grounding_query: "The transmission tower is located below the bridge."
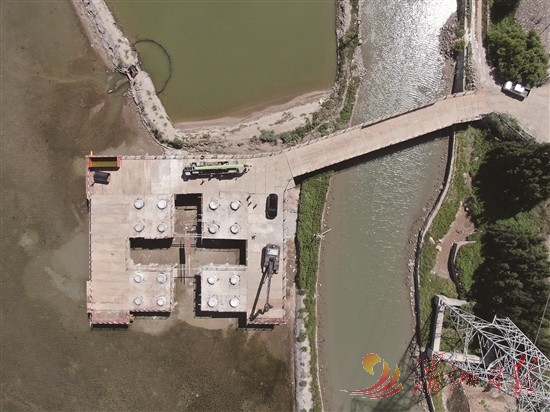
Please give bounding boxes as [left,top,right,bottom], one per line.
[425,298,550,412]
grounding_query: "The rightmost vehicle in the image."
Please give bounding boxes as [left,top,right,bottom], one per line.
[504,82,535,100]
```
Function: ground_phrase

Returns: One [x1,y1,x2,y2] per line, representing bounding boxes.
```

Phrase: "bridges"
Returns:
[284,90,488,178]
